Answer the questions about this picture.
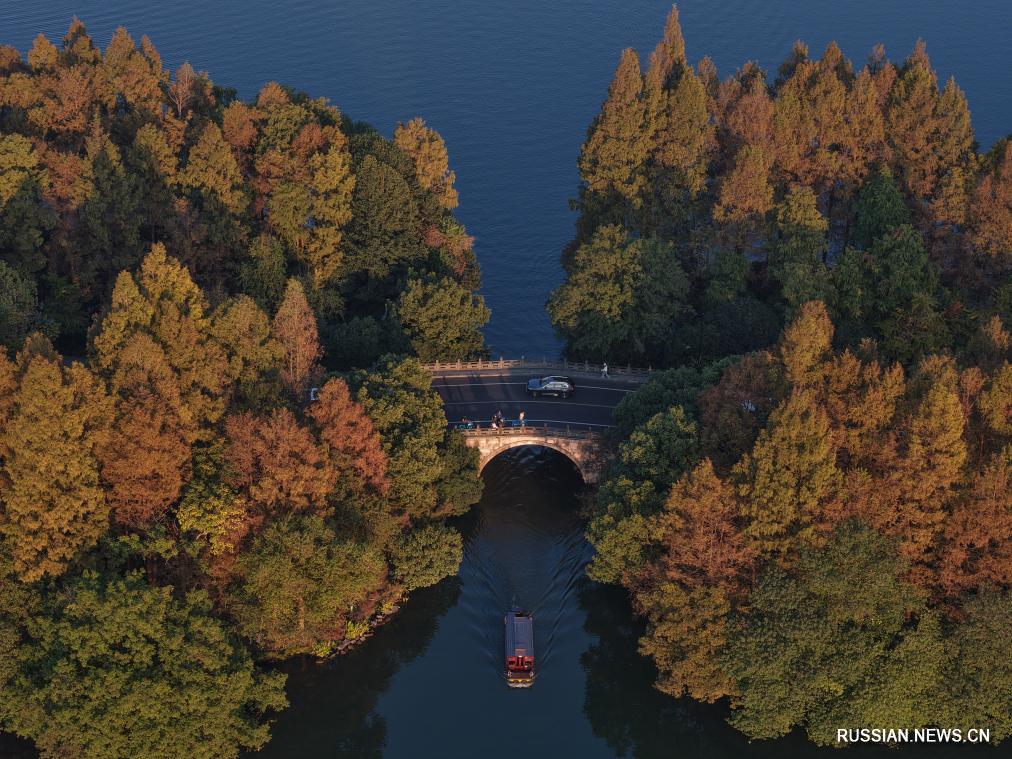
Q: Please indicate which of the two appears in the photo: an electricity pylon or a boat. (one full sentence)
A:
The one in the frame is a boat.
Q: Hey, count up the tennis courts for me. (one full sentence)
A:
The photo contains no tennis courts.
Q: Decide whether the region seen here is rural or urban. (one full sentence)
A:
The area is rural.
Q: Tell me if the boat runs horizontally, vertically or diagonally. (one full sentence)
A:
What the image shows is the boat lying vertically.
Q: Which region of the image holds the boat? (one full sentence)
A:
The boat is located in the bottom region of the scene.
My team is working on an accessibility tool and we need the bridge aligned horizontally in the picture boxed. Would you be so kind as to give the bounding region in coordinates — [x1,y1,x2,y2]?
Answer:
[366,355,703,480]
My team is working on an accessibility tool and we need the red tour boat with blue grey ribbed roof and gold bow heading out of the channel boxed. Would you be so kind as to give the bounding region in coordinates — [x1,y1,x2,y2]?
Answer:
[504,606,532,687]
